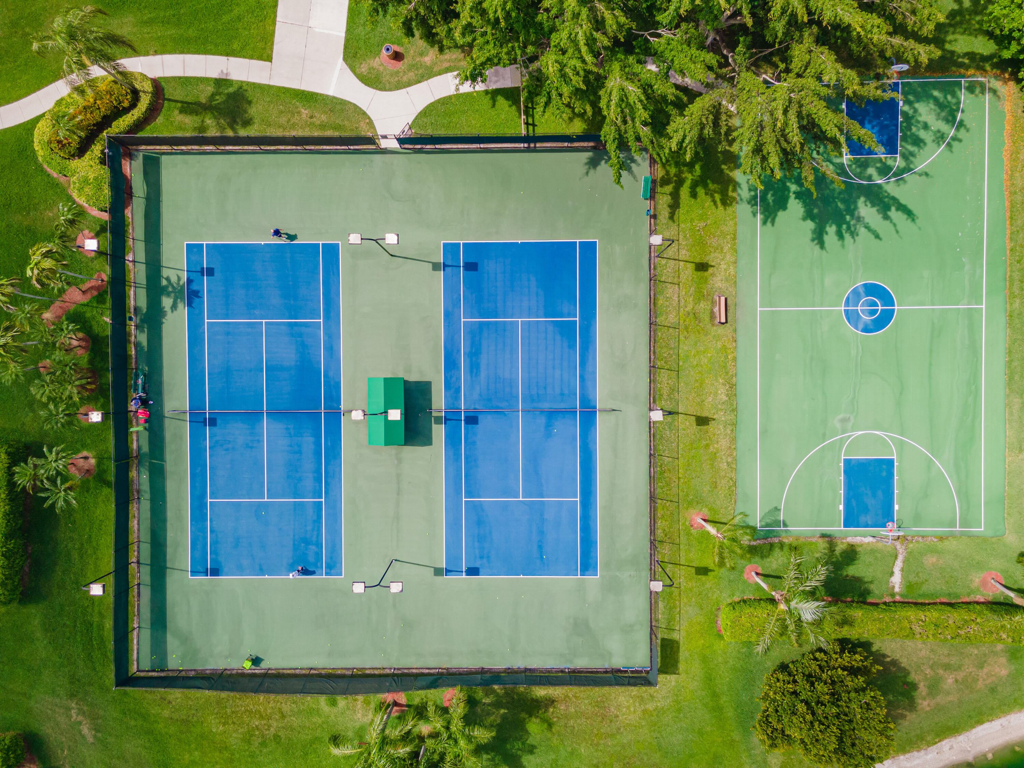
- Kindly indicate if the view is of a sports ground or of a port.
sports ground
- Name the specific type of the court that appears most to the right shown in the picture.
basketball court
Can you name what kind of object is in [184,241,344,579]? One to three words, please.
tennis court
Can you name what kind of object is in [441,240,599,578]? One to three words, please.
tennis court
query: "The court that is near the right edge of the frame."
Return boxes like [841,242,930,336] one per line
[734,73,1006,539]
